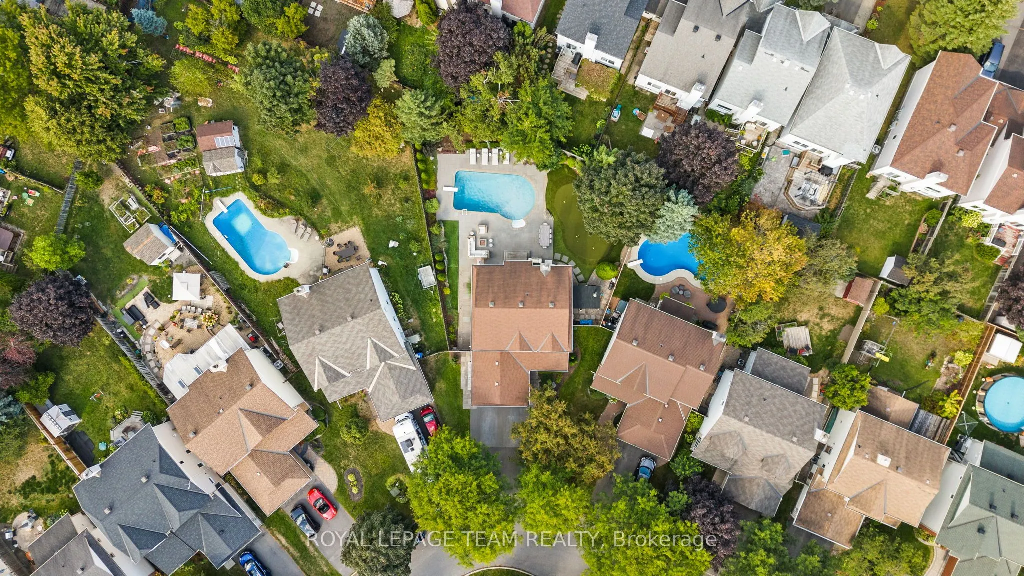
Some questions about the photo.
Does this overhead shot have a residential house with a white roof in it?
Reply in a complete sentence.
Yes, there's a residential house with a white roof here.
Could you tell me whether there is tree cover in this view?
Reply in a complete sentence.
Yes, tree cover shows up in the scene.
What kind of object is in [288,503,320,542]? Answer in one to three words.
car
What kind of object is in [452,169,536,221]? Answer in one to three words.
swimming pool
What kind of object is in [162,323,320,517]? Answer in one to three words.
house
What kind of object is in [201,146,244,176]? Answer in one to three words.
shed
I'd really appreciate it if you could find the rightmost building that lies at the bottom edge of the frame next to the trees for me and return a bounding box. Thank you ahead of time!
[920,438,1024,576]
